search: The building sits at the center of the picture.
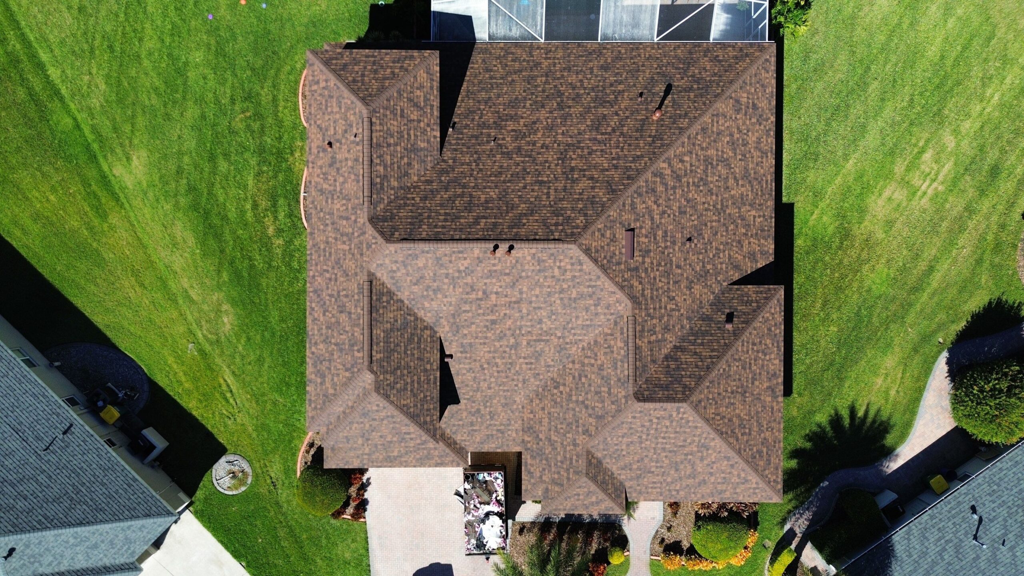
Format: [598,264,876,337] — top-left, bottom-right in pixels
[301,40,783,514]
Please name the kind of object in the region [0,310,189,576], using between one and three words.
house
